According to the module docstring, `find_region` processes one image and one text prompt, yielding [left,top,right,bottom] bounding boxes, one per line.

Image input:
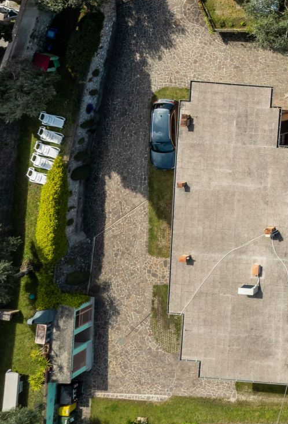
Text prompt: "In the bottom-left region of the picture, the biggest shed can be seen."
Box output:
[50,290,103,387]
